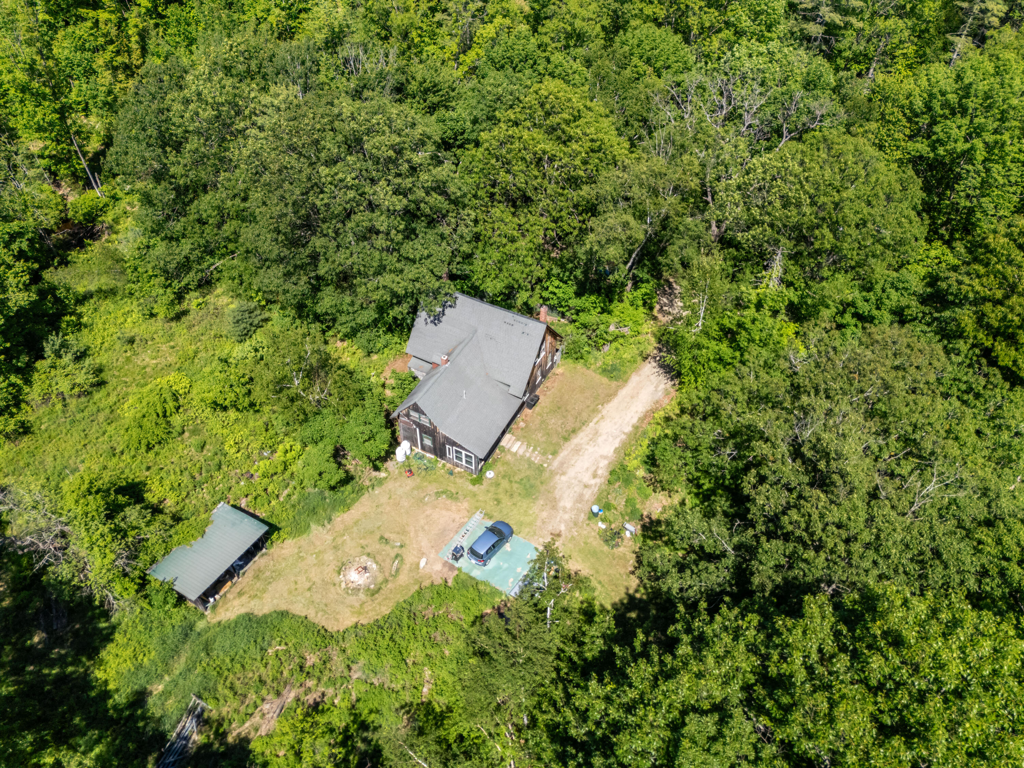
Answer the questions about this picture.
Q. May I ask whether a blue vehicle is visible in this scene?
Yes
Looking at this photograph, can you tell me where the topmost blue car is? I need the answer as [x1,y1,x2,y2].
[464,521,514,568]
